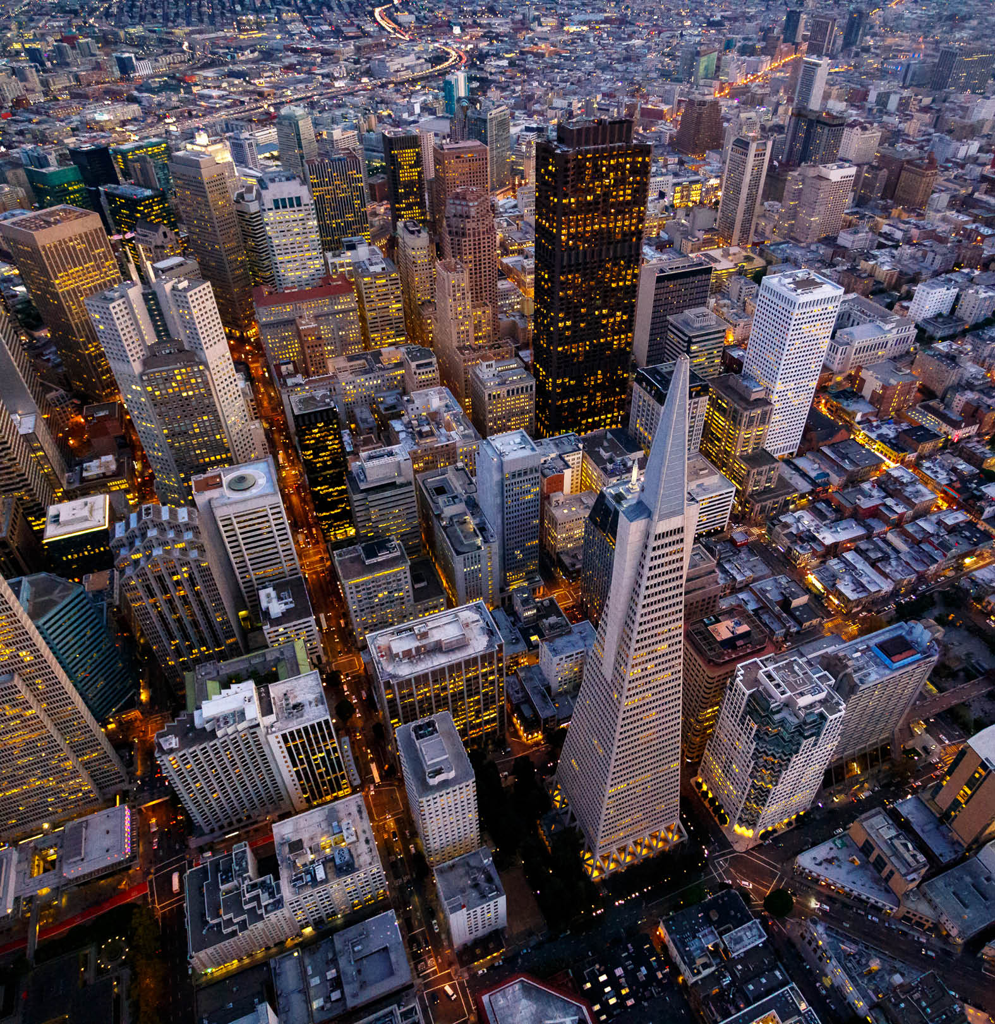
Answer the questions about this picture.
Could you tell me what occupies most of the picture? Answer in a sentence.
Most of the picture is covered by buildings.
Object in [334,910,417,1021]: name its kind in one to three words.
building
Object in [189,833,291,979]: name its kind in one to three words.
building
